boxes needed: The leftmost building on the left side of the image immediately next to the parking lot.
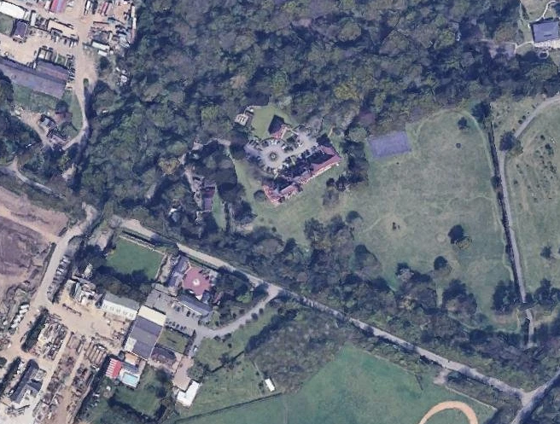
[100,293,140,319]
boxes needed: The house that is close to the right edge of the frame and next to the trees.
[531,21,560,43]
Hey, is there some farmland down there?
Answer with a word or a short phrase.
Yes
